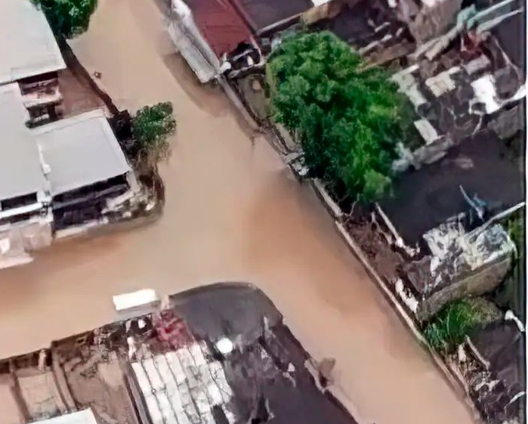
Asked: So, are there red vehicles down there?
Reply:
No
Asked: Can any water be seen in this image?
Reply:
Yes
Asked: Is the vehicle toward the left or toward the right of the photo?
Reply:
left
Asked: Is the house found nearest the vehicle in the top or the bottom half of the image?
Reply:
bottom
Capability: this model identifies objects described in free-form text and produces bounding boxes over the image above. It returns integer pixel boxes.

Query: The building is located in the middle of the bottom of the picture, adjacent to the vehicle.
[171,282,283,389]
